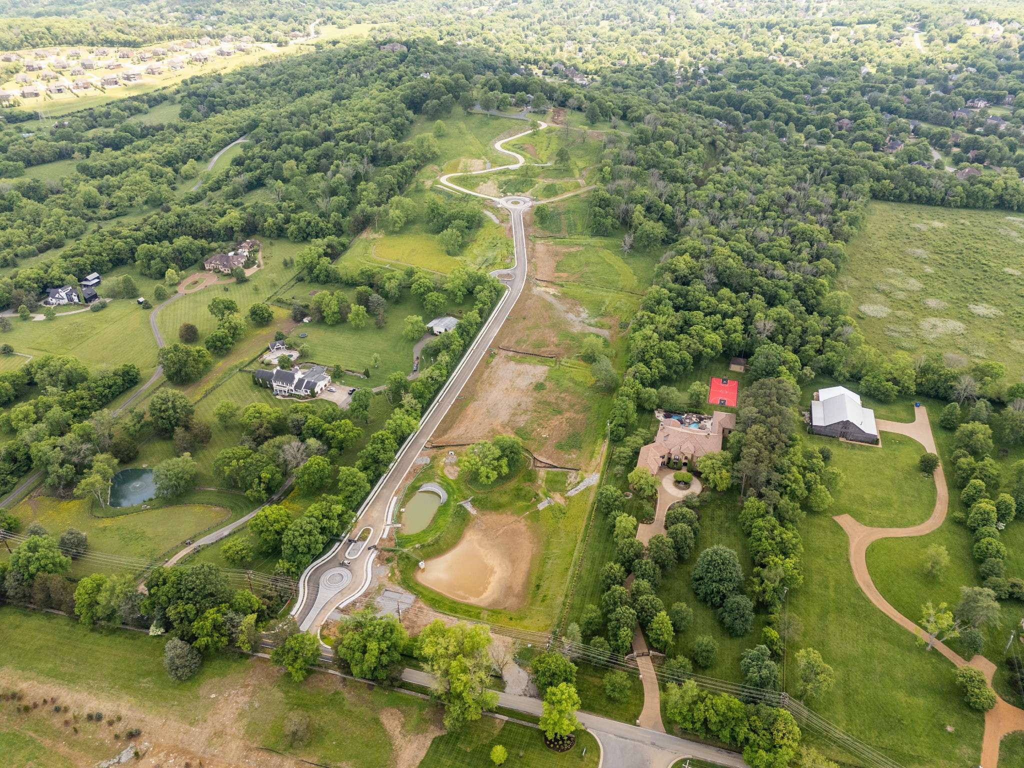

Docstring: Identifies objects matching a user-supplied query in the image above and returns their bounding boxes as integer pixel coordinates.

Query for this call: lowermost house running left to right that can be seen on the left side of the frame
[253,363,341,398]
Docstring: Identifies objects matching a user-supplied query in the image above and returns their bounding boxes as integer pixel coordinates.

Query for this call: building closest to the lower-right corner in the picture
[805,385,890,442]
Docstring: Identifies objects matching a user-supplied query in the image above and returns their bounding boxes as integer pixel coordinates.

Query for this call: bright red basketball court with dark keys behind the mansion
[708,377,739,407]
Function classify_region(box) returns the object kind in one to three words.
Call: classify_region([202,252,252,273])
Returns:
house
